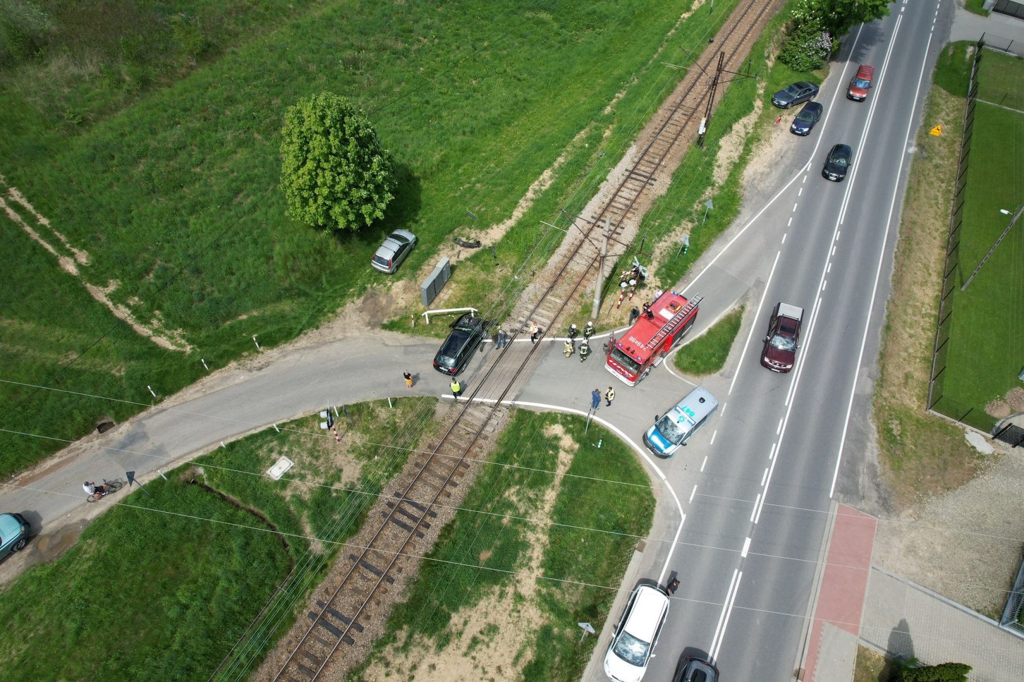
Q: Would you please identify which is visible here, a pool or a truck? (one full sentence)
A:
Looking from above, you can make out a truck.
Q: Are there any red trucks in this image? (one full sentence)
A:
Yes, the frame does contain a red truck.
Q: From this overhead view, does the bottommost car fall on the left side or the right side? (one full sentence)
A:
You can find the bottommost car on the right side of the picture.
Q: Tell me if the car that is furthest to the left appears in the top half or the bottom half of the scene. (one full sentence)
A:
It is in the bottom half that the car that is furthest to the left appears.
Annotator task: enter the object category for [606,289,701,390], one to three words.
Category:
truck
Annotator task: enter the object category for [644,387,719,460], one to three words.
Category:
van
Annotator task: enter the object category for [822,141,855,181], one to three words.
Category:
car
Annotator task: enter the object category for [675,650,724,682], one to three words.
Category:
car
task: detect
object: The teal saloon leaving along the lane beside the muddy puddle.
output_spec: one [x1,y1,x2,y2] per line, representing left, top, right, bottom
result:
[0,516,32,563]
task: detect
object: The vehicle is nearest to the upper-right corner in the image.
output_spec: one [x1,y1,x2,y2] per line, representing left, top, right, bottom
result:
[846,64,875,100]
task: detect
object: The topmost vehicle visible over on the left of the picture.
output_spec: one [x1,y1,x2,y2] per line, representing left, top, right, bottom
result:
[373,228,418,271]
